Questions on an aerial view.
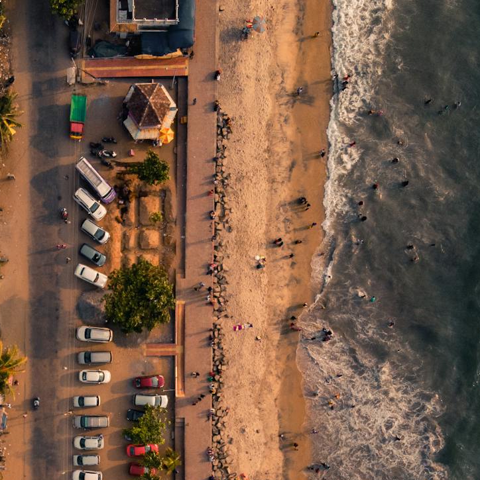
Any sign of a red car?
Yes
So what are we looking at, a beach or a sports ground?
beach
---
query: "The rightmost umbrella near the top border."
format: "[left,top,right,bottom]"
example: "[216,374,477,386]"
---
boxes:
[250,18,263,31]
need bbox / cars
[74,414,109,432]
[73,454,100,467]
[134,392,167,409]
[76,325,112,343]
[73,261,108,290]
[73,393,100,409]
[79,217,111,246]
[79,369,110,384]
[124,407,153,420]
[74,435,103,451]
[129,463,157,479]
[72,469,102,480]
[78,350,112,366]
[127,443,159,459]
[72,187,109,221]
[78,242,108,269]
[133,373,164,390]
